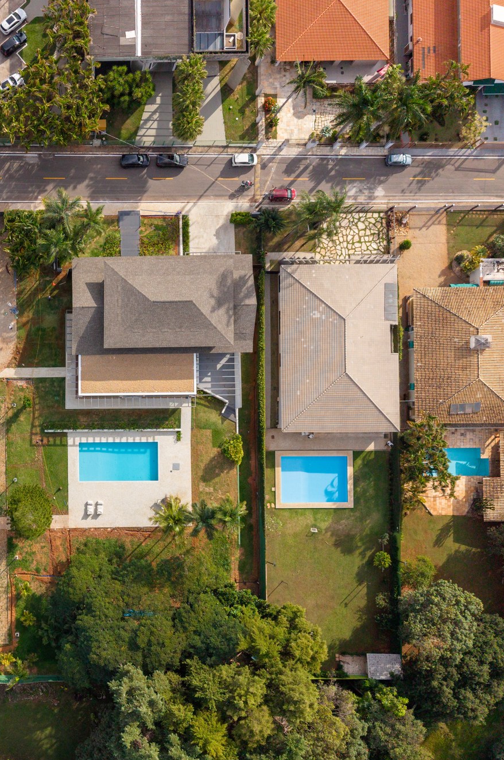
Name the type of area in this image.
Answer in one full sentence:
This looks like a residential area.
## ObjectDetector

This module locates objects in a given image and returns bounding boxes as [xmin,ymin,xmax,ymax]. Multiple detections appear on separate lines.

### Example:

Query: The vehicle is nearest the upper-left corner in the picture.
[0,9,29,33]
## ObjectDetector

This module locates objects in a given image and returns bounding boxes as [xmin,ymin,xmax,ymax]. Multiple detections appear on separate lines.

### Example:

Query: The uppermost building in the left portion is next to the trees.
[86,0,250,93]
